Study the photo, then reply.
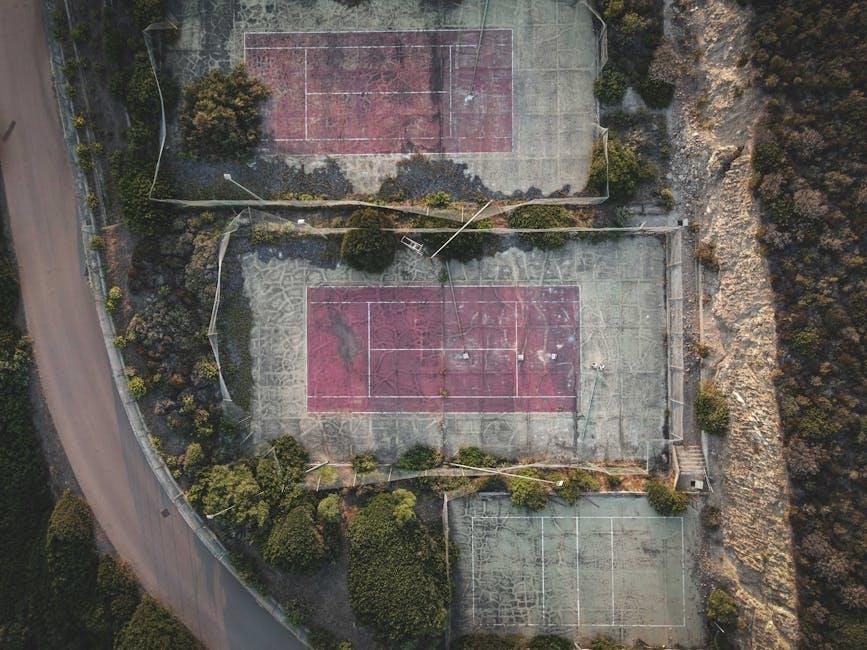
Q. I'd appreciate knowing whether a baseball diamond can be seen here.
No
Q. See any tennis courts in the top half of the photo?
Yes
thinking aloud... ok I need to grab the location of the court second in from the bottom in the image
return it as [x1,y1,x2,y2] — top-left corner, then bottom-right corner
[218,231,667,468]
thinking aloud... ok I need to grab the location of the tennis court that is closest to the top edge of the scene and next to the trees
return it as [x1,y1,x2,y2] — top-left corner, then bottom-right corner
[160,0,601,201]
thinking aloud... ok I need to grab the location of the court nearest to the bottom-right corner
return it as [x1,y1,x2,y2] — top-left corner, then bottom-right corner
[450,492,703,650]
